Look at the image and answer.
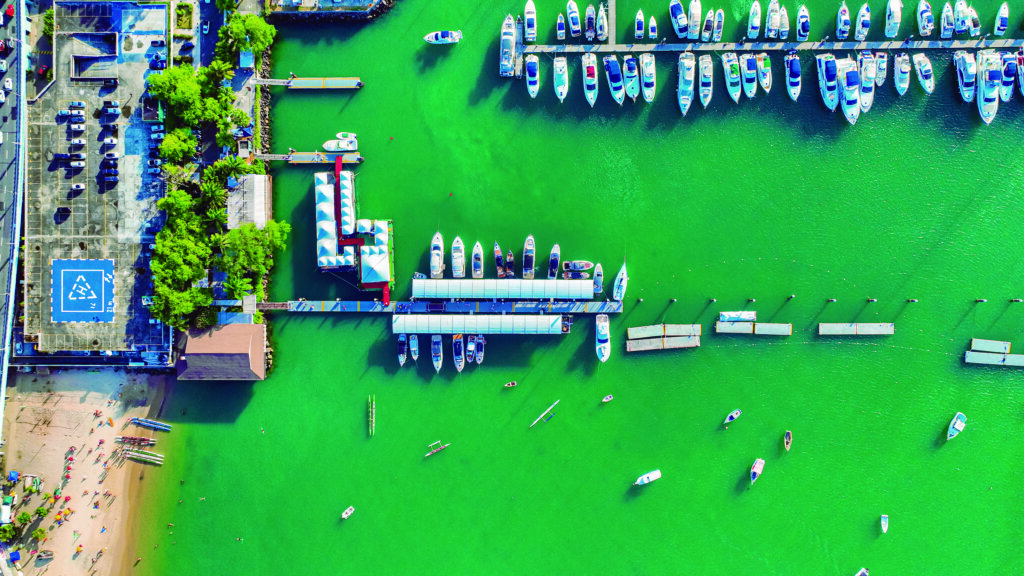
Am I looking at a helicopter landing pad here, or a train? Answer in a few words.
helicopter landing pad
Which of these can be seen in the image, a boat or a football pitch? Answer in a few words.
boat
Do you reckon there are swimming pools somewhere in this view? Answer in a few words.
No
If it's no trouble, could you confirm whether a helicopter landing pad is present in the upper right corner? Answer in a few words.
No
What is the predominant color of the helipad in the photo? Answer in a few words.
blue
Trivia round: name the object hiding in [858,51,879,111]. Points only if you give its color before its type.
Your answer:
white boat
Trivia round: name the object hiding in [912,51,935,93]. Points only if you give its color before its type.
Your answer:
white boat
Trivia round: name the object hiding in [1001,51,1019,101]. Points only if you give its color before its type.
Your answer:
blue boat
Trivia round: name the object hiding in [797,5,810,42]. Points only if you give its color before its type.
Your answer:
blue boat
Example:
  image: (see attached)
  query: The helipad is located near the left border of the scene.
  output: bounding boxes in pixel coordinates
[51,260,115,322]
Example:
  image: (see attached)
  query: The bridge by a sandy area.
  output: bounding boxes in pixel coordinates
[0,0,30,487]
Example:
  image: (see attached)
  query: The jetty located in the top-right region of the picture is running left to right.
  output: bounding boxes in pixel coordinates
[516,21,1024,79]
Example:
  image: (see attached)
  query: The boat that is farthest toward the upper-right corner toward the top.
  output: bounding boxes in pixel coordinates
[993,2,1010,38]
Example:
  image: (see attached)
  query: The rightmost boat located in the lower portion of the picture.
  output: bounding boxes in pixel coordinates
[947,413,965,438]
